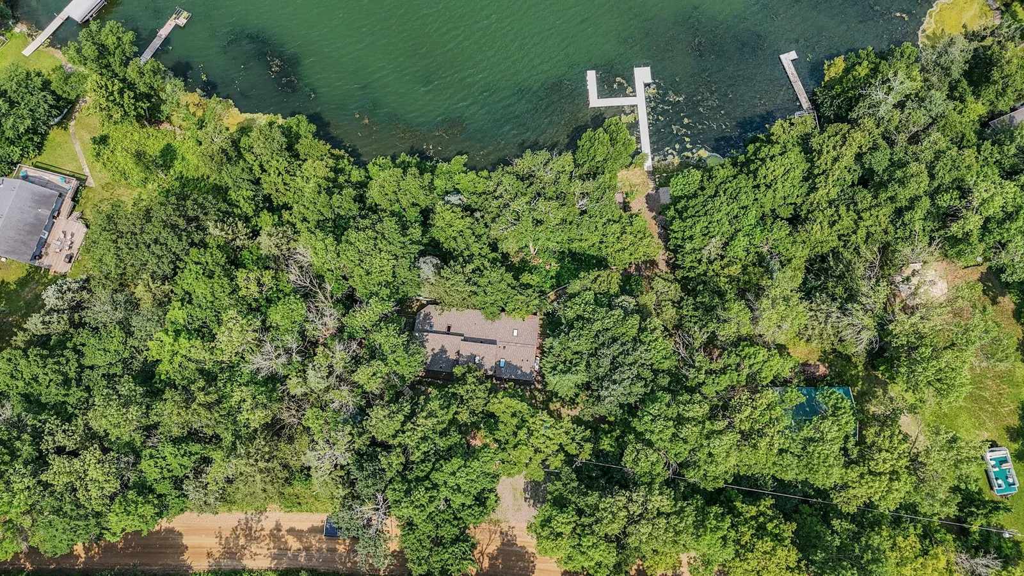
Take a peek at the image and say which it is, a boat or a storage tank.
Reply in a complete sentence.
It is a boat that can be seen here.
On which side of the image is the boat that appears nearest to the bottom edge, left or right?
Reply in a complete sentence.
The boat that appears nearest to the bottom edge appears in the right half of the scene.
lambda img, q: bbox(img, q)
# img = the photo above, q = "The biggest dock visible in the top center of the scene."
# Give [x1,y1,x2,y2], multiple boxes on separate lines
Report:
[585,66,653,170]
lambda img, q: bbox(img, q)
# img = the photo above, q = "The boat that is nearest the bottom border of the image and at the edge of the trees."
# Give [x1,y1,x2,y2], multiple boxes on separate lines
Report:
[986,444,1022,500]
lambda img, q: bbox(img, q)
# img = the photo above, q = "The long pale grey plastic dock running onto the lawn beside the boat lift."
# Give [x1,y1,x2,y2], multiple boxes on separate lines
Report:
[22,11,69,56]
